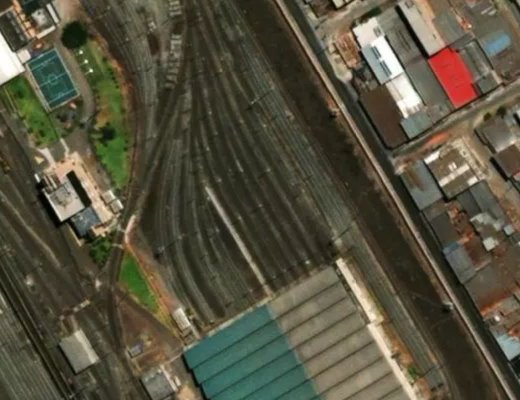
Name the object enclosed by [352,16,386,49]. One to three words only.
building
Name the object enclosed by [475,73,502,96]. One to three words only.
shed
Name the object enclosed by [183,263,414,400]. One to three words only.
building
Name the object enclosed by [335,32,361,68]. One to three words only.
house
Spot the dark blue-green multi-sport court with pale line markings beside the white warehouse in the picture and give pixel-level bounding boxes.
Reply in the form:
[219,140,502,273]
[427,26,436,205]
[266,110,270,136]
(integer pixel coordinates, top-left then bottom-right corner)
[25,47,81,112]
